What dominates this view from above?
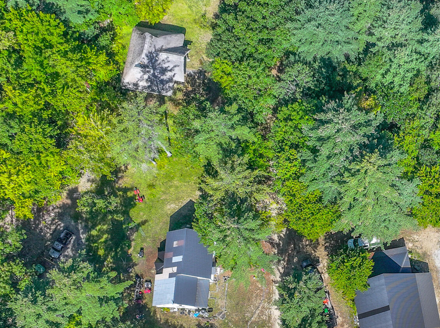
trees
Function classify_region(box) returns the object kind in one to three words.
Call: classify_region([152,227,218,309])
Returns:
house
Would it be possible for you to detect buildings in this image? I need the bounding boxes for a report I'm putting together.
[352,272,440,328]
[121,27,194,98]
[152,227,218,309]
